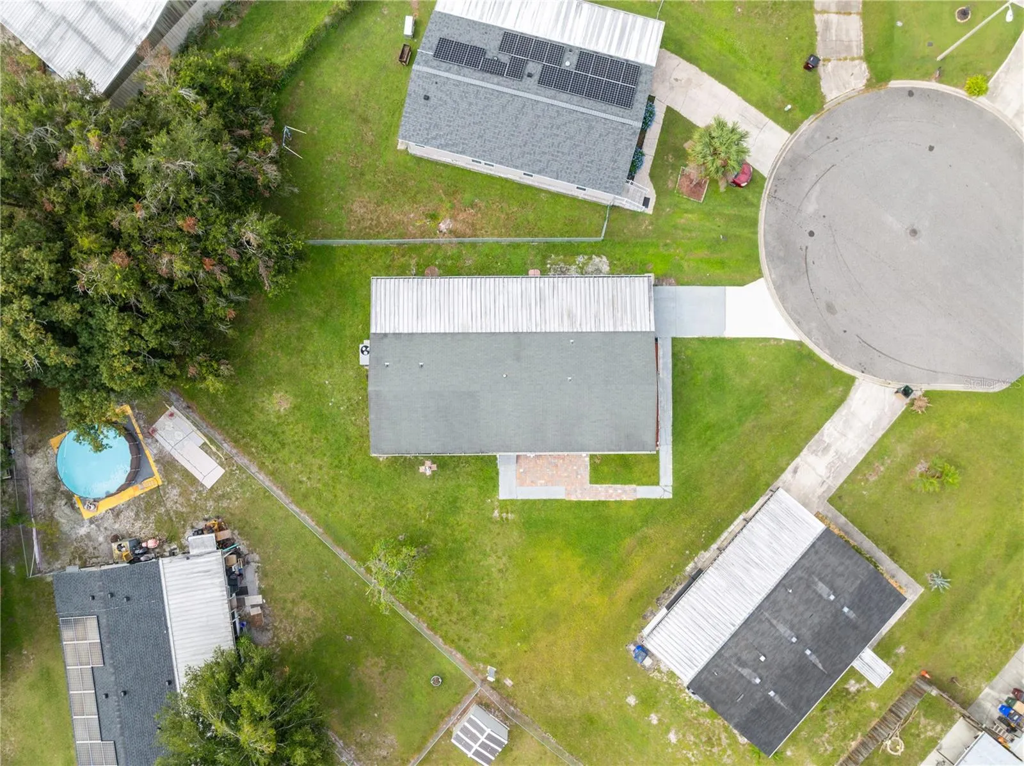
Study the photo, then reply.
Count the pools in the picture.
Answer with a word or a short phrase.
one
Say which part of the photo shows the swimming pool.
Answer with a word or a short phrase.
left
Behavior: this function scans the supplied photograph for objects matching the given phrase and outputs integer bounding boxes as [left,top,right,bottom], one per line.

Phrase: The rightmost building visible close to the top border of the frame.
[401,0,666,204]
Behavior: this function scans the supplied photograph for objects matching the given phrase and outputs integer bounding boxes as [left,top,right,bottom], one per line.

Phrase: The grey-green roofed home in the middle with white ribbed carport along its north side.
[368,275,659,456]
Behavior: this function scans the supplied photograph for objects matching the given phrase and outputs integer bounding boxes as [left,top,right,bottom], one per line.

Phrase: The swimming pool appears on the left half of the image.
[55,425,142,501]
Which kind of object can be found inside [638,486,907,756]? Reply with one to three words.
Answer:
house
